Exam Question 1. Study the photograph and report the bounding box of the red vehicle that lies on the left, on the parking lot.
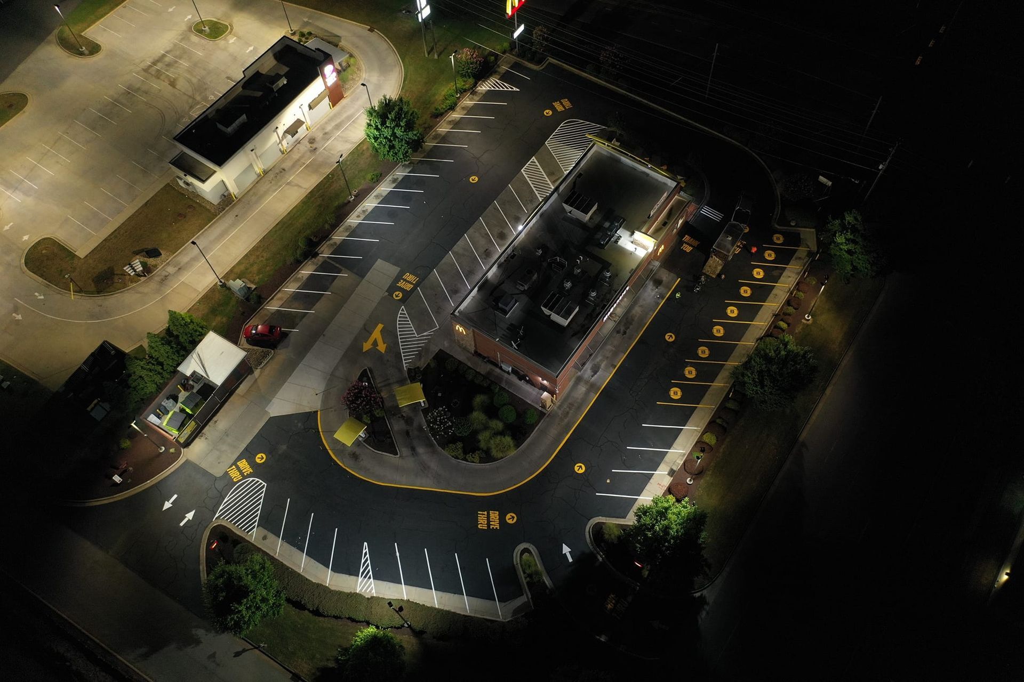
[242,320,281,339]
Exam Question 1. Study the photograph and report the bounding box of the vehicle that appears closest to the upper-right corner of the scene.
[702,197,754,278]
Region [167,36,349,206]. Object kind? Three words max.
building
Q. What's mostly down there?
paved ground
